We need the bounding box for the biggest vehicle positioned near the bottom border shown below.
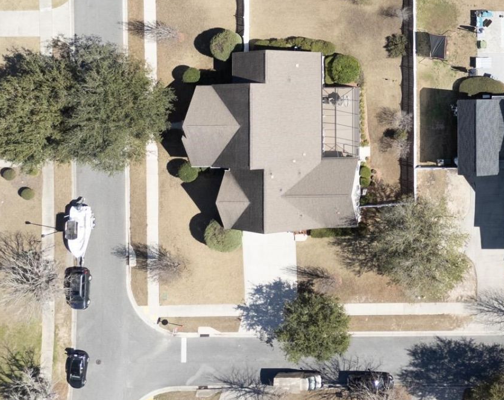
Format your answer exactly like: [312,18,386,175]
[271,371,322,395]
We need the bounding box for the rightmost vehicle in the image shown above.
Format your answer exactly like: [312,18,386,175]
[349,372,392,391]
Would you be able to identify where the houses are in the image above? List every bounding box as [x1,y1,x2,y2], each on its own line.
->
[458,96,504,176]
[183,51,364,236]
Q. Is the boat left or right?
left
